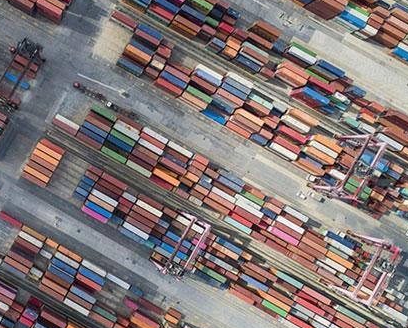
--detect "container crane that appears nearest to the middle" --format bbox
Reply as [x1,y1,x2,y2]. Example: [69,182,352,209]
[148,208,215,285]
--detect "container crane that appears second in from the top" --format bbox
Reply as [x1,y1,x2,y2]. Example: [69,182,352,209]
[309,134,394,202]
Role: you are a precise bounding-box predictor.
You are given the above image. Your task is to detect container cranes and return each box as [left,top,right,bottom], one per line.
[309,134,394,202]
[0,40,46,112]
[148,208,215,285]
[318,228,404,307]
